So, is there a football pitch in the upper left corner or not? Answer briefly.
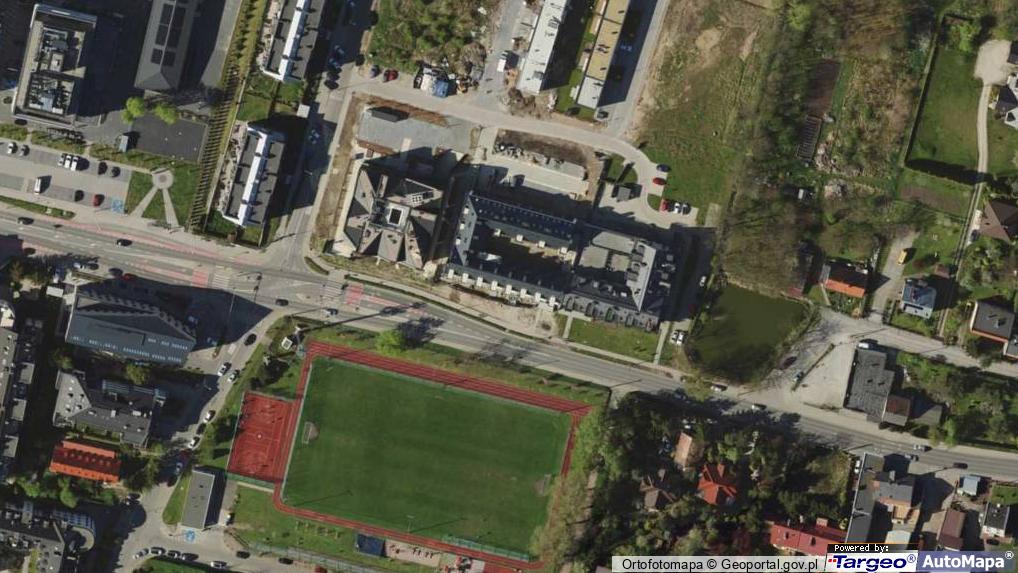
No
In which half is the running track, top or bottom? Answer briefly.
bottom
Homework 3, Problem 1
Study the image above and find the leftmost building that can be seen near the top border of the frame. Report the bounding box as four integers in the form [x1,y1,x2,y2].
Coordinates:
[12,4,101,130]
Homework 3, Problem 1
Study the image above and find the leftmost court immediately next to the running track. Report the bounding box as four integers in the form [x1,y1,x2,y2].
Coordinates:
[228,392,295,479]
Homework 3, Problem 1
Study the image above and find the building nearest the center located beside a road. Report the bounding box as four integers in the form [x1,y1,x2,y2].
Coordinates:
[445,193,577,310]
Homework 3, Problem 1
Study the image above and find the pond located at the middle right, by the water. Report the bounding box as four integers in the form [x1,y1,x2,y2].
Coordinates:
[688,283,811,380]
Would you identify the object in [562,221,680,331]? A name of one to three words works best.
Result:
building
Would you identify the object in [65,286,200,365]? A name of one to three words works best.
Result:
building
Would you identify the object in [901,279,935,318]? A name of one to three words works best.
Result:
house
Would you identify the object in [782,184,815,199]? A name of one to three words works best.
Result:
shed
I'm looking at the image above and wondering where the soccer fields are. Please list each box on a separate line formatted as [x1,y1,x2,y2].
[281,357,571,561]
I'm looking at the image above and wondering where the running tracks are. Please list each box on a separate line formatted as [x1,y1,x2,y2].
[273,342,594,570]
